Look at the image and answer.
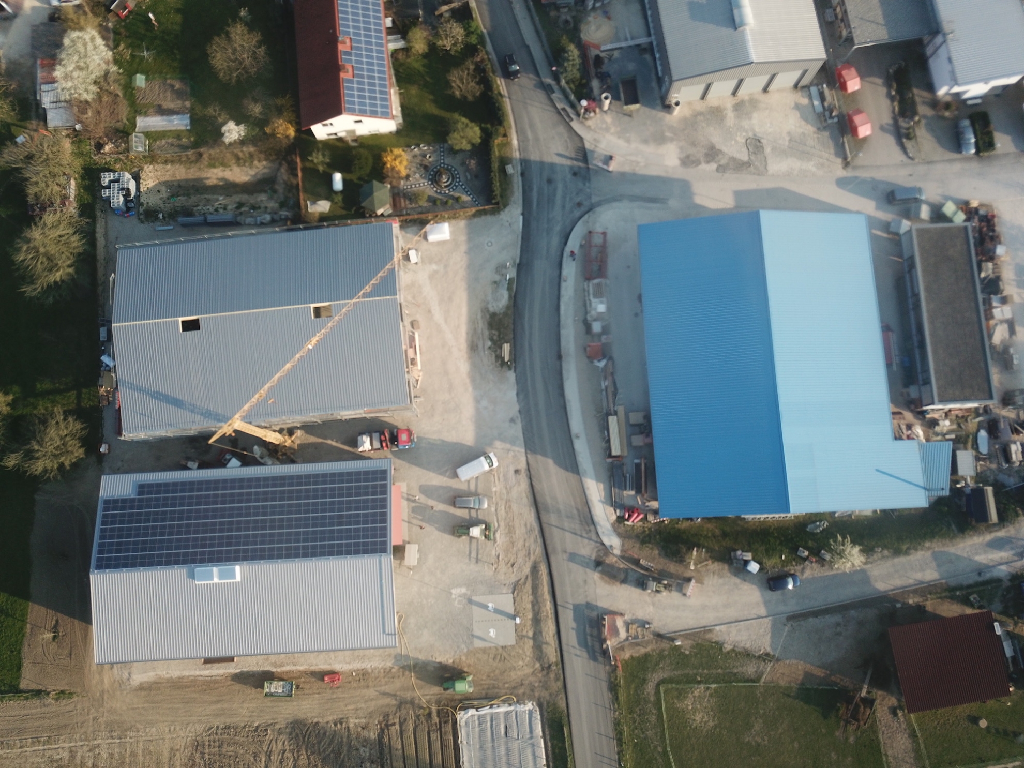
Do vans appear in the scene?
Yes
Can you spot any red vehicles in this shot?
Yes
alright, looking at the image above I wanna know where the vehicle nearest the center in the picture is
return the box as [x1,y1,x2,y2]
[453,452,498,482]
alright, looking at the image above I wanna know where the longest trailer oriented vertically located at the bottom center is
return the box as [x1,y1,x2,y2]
[606,613,628,668]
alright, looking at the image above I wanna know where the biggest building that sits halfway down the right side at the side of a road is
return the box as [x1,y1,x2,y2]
[637,210,926,518]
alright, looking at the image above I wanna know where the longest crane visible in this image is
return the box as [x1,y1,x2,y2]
[208,226,436,465]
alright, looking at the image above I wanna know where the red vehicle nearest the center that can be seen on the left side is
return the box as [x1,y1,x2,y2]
[355,427,415,451]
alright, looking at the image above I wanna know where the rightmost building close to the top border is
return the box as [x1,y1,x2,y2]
[916,0,1024,102]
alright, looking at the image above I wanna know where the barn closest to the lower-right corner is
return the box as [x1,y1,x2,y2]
[887,610,1010,713]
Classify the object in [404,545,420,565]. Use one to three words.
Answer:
shed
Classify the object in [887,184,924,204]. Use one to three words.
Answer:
vehicle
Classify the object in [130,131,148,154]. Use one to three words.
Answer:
greenhouse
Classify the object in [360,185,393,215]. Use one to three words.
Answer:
gazebo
